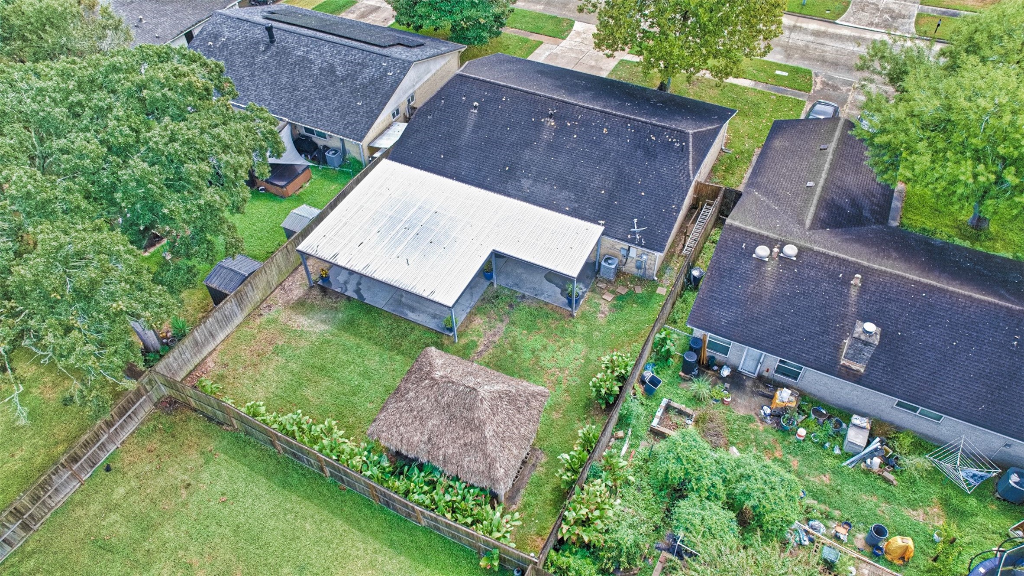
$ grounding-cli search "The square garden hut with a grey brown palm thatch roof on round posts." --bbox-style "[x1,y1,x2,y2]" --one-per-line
[361,347,556,501]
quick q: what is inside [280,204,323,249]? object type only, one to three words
shed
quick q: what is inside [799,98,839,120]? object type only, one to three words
car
